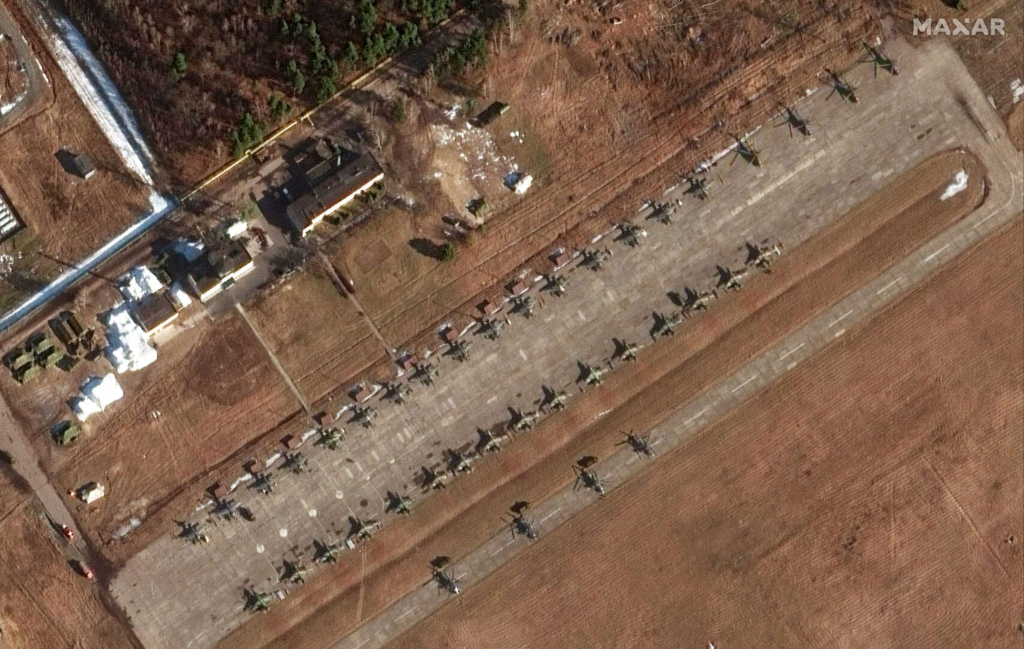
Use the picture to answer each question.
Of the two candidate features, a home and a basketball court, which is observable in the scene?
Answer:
home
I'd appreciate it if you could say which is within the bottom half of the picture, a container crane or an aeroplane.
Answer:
aeroplane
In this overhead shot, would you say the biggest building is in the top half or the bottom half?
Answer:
top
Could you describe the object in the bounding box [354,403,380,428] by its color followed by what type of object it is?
gray airplane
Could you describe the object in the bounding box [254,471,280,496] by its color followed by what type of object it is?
gray airplane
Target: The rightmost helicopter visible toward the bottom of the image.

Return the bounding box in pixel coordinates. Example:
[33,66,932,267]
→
[629,429,663,461]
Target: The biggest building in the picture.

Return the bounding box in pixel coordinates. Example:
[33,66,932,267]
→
[285,152,386,237]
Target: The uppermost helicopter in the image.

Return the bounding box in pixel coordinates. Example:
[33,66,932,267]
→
[864,44,905,80]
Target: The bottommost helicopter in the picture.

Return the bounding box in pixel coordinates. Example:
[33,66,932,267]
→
[433,564,468,595]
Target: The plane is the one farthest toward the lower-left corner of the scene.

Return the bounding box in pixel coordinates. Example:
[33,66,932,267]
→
[183,521,209,546]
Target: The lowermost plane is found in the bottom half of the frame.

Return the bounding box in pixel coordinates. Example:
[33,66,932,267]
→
[248,588,275,612]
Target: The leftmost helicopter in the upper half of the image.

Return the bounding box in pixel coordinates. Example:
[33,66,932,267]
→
[732,135,774,170]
